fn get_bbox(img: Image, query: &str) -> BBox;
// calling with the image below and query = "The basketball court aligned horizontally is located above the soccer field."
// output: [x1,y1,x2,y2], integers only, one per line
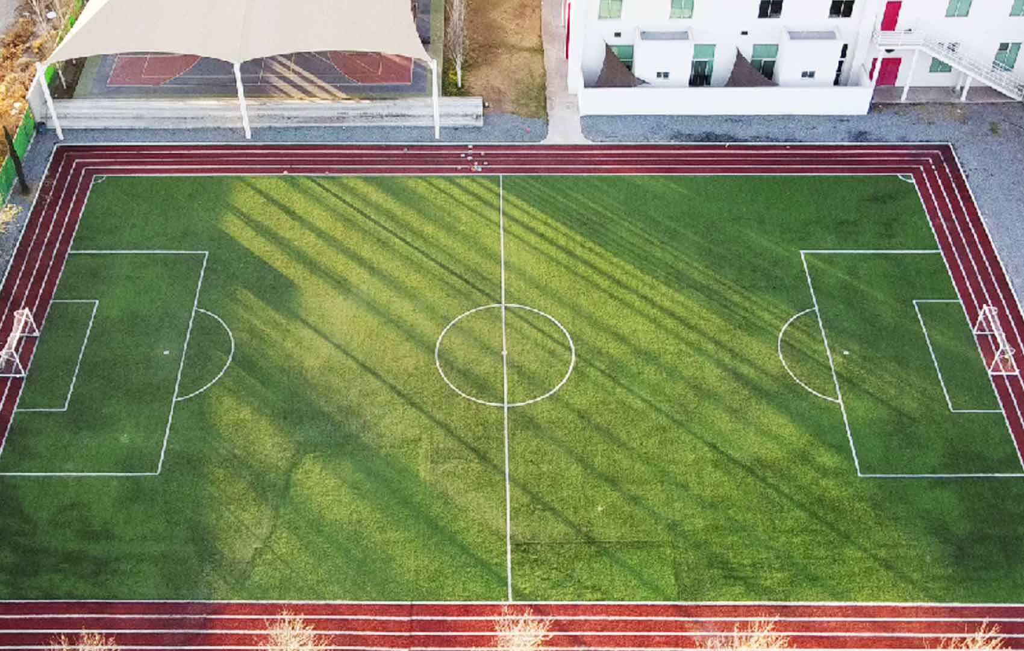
[71,0,447,99]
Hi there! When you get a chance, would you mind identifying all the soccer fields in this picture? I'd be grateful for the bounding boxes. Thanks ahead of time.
[0,174,1024,604]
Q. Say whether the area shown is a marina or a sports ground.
sports ground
